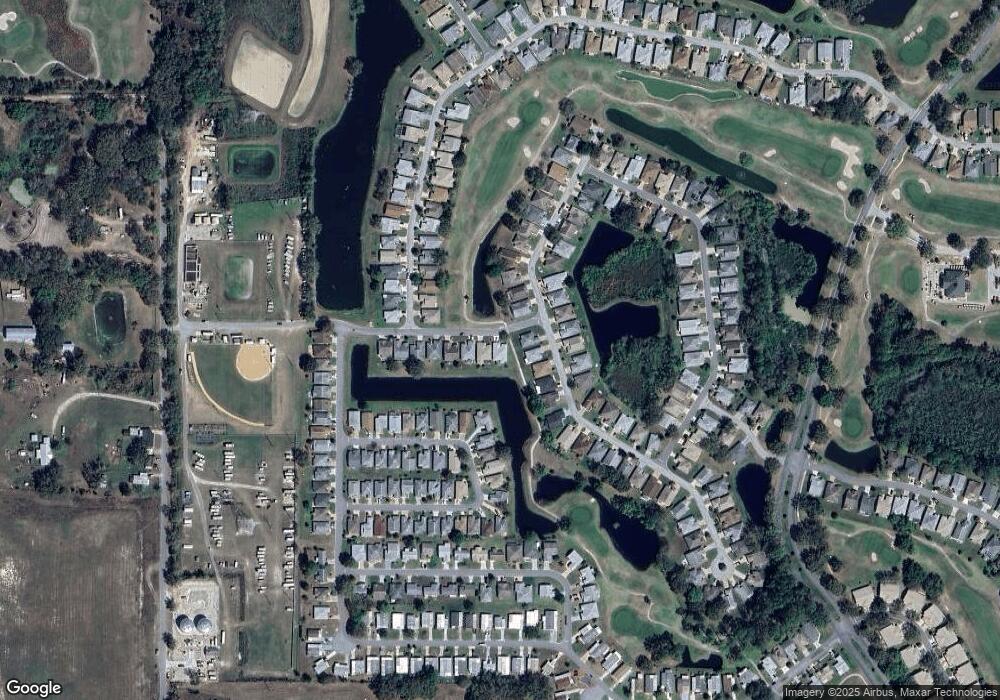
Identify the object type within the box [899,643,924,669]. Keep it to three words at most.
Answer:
building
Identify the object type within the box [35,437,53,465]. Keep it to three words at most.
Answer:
house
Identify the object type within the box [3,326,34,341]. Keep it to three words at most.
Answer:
shed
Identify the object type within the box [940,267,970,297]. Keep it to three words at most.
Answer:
building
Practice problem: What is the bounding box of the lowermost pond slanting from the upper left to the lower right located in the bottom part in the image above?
[534,475,663,569]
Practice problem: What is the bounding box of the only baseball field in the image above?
[190,345,274,427]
